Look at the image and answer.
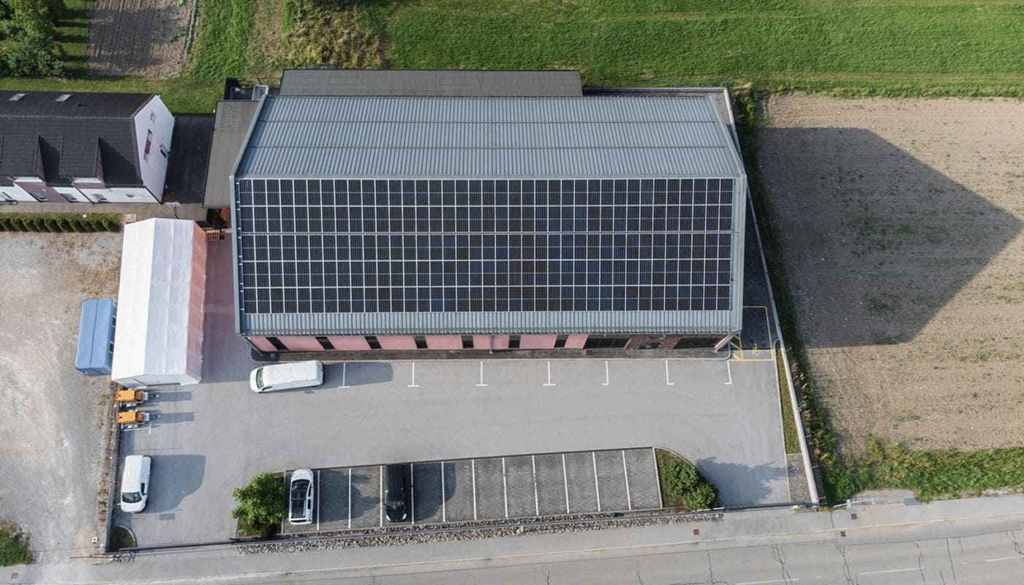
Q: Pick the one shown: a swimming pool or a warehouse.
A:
warehouse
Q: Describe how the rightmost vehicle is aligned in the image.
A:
up and down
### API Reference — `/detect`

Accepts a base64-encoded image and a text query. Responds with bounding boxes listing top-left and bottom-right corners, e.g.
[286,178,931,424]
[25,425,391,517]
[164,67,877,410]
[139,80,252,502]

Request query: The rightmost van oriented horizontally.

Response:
[248,355,324,392]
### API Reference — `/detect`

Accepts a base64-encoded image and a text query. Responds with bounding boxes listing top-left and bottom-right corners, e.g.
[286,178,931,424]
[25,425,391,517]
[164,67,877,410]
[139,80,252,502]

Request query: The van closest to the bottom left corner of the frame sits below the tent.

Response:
[116,454,152,511]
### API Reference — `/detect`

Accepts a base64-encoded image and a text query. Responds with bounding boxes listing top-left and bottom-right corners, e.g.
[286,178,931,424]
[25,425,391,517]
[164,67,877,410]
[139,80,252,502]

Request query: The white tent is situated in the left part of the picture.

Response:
[112,218,206,388]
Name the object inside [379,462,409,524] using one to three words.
vehicle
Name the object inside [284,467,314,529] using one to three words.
car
